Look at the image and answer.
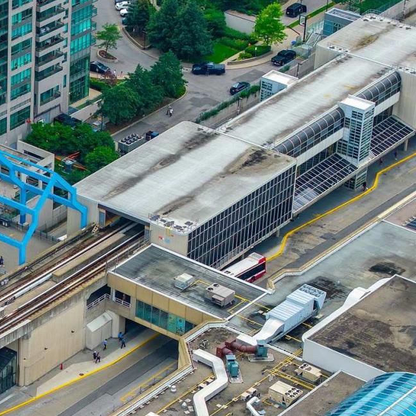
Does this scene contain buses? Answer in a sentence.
Yes, there is a bus in the image.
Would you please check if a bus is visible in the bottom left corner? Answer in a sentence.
No, I see no bus in the bottom left corner.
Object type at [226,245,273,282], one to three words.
bus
